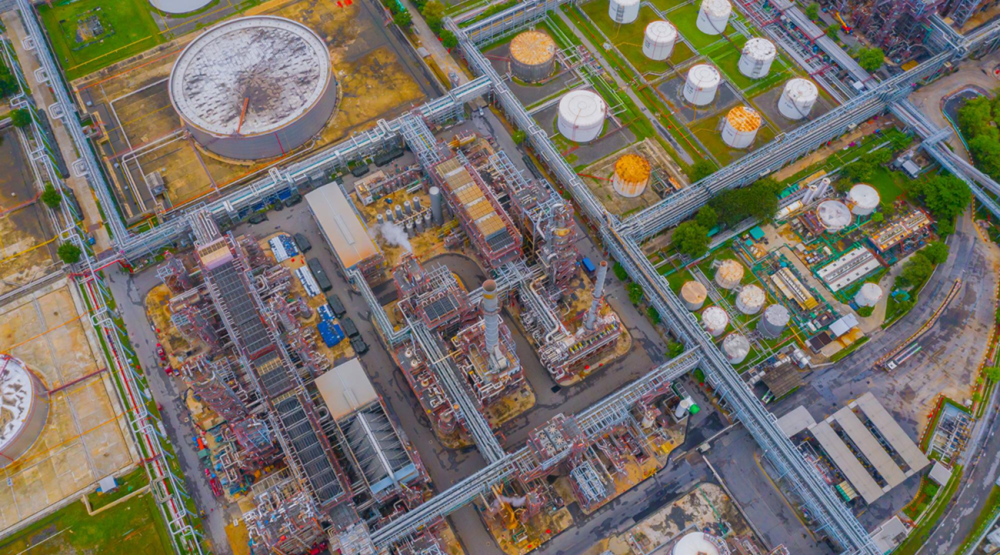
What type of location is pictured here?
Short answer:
industrial area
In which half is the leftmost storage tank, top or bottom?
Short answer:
bottom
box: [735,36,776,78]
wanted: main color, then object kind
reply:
white storage tank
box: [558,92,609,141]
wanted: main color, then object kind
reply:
white storage tank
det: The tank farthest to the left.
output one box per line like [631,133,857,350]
[0,345,58,464]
